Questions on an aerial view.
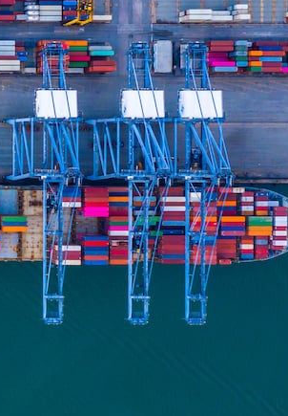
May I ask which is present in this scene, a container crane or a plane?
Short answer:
container crane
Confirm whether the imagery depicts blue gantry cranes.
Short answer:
Yes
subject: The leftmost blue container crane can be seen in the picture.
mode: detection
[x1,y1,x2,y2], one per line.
[5,39,84,324]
